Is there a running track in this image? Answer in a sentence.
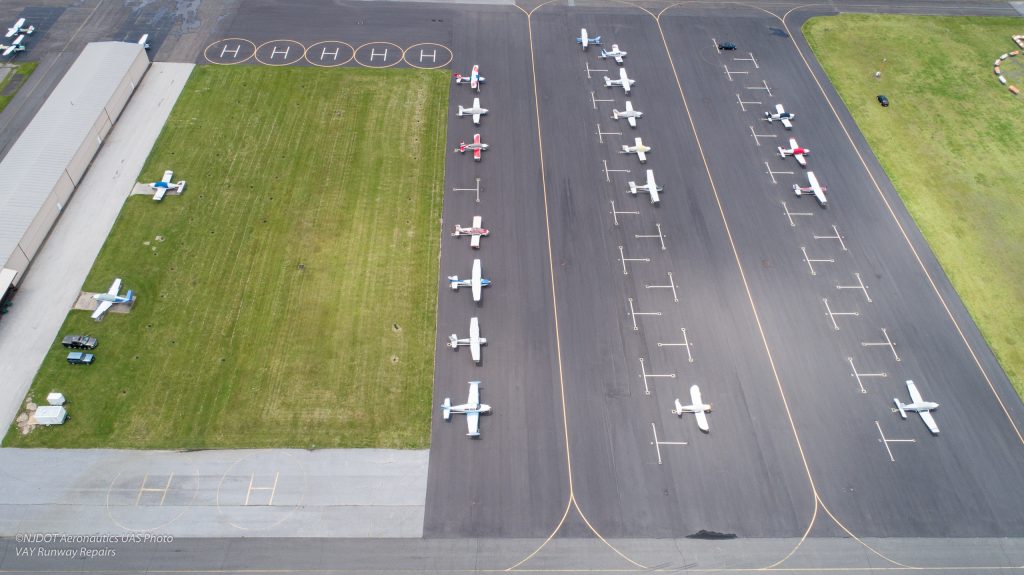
No, there isn't any running track down there.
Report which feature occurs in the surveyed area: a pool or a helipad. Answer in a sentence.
Of the two, only a helipad appears.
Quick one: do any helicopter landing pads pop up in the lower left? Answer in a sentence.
Yes, looking in the lower left, one can make out a helicopter landing pad.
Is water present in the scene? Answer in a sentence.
No, no water is visible.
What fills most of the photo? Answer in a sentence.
The scene is dominated by paved ground.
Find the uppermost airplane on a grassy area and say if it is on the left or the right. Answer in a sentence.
The uppermost airplane on a grassy area appears in the left half of the scene.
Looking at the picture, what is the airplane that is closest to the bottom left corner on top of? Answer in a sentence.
From above, the airplane that is closest to the bottom left corner can be seen on the grass.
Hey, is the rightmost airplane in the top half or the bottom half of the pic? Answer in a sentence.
The bottom half of the photo is where the rightmost airplane is.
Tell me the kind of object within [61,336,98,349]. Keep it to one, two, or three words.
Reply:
vehicle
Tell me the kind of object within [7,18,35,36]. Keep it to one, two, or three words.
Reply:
airplane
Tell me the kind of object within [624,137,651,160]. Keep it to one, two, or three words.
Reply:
airplane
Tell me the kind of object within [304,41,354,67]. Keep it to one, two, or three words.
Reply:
helipad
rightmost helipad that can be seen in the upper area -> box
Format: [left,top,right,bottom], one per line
[403,43,452,69]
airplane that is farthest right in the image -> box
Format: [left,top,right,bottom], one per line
[893,381,941,432]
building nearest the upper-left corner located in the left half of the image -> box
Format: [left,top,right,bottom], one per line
[0,42,150,309]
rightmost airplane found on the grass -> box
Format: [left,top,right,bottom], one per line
[149,171,186,199]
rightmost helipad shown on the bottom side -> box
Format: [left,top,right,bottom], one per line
[217,449,305,530]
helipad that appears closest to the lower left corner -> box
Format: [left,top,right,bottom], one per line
[107,449,199,530]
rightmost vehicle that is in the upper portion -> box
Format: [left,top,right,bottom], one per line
[877,93,890,105]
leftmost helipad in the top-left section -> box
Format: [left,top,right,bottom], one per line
[204,38,255,64]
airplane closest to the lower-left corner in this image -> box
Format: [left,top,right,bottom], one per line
[93,279,134,317]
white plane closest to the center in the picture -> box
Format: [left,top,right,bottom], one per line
[452,259,491,299]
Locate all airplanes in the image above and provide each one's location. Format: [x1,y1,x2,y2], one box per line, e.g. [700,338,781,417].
[794,171,827,201]
[451,317,488,359]
[893,381,941,432]
[455,216,489,246]
[624,137,651,160]
[631,170,664,200]
[452,259,491,299]
[458,99,488,123]
[576,28,602,46]
[613,102,642,125]
[778,139,810,164]
[766,105,795,128]
[0,36,25,55]
[149,171,186,199]
[134,32,150,49]
[455,65,486,87]
[7,18,35,36]
[443,382,491,434]
[459,134,488,159]
[93,279,134,317]
[675,386,713,430]
[602,45,627,62]
[607,68,635,90]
